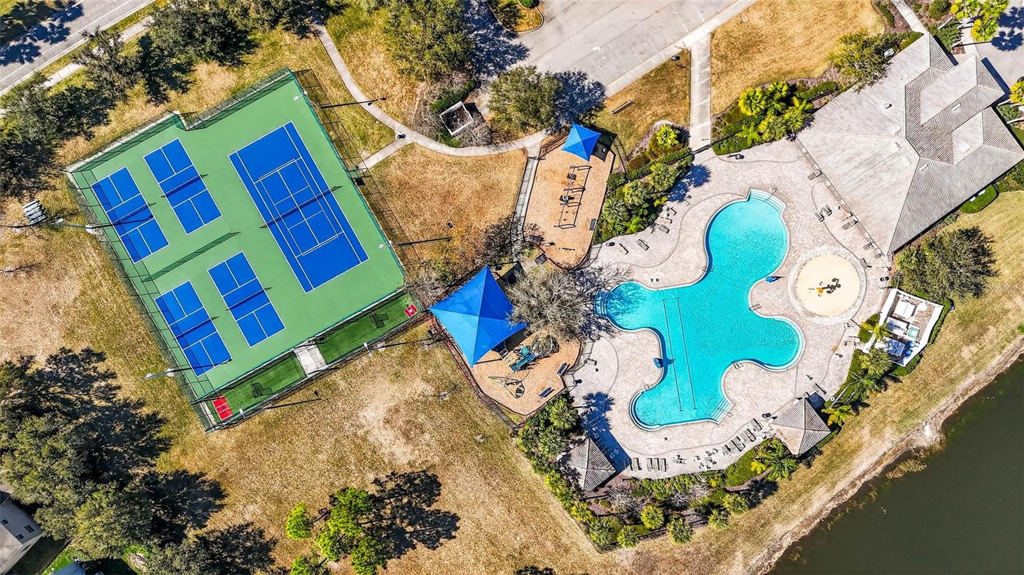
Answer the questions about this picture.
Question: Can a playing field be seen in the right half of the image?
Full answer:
No, in the right half of the image there is no playing field.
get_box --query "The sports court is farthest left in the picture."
[91,167,168,263]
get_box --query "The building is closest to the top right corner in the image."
[795,31,1024,257]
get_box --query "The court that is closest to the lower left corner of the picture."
[155,280,231,377]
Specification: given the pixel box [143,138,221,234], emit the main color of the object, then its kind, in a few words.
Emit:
blue sports court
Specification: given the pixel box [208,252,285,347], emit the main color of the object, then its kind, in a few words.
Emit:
blue sports court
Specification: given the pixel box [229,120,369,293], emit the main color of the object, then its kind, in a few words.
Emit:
blue tennis court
